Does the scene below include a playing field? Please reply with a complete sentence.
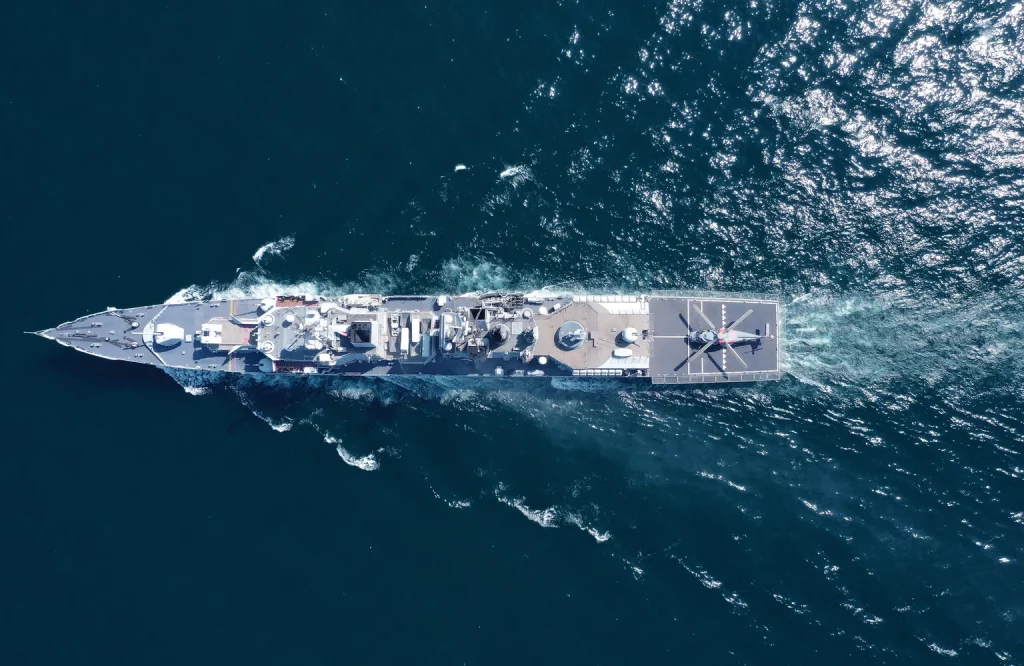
No, no playing field is visible in the view.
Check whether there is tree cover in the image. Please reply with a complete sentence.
No, there is no tree cover in the image.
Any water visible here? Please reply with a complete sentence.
Yes, water shows up in the scene.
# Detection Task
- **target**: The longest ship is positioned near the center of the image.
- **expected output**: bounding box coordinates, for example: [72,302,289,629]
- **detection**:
[24,290,782,384]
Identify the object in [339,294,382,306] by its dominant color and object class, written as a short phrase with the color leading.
white boat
